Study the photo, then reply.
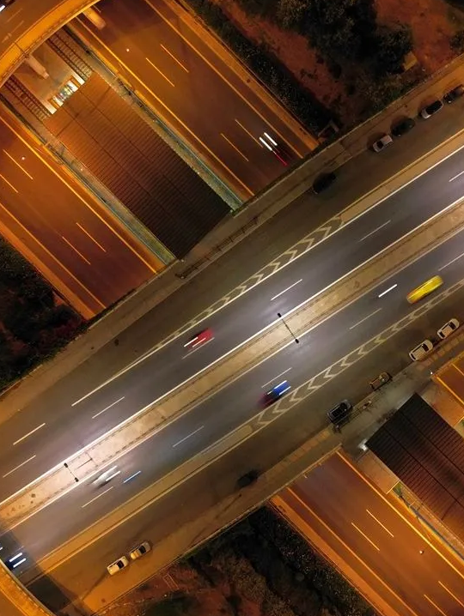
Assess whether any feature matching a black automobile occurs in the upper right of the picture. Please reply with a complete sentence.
Yes, the scene does show a black automobile in the upper right of the picture.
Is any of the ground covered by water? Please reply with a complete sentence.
No, there's no water in this view.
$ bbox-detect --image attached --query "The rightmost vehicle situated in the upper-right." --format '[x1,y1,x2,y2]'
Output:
[441,85,464,106]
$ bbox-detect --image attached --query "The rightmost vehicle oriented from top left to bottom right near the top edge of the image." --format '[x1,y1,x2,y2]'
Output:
[83,5,110,31]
